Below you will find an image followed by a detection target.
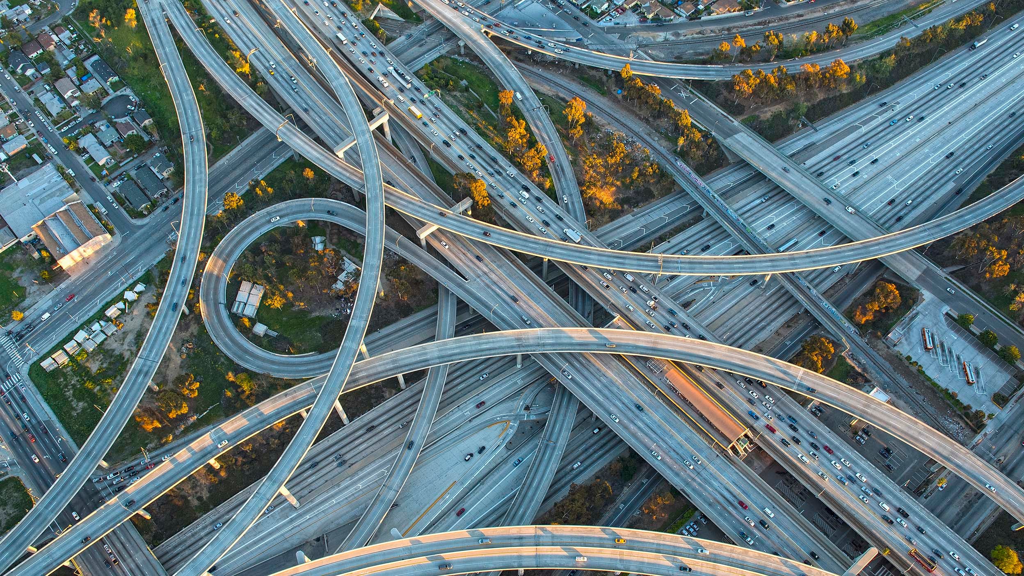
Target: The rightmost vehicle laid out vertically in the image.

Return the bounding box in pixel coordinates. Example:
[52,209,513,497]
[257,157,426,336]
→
[963,359,975,386]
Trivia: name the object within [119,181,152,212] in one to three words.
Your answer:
house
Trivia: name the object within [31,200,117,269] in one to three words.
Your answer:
building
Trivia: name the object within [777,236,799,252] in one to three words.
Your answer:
vehicle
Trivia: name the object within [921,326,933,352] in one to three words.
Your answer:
vehicle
